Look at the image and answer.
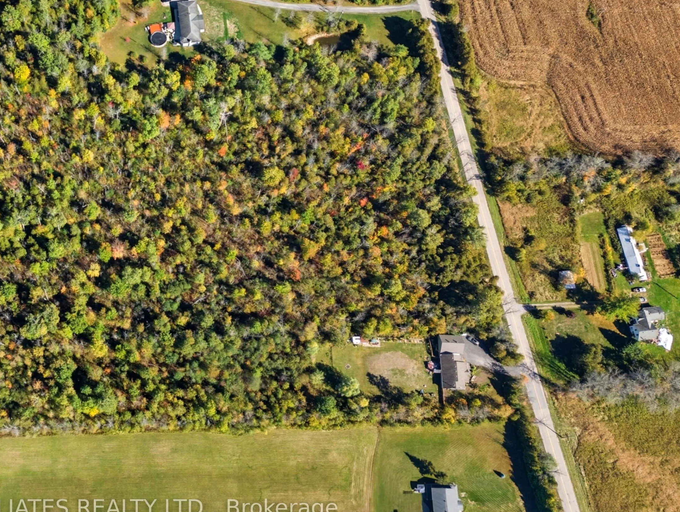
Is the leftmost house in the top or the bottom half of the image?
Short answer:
top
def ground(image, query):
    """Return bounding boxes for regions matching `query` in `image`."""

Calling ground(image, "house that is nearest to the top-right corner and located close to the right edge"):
[617,226,648,281]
